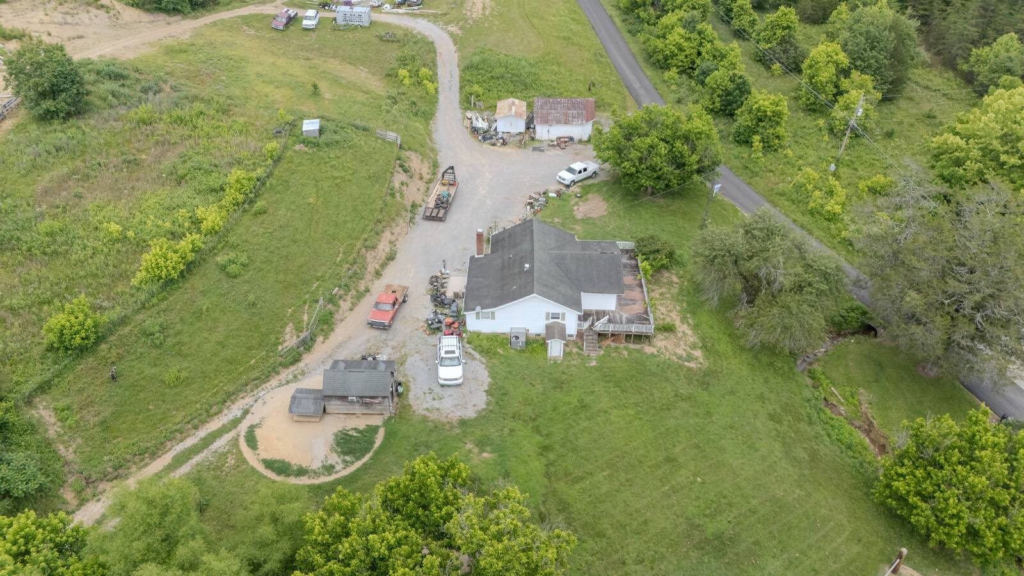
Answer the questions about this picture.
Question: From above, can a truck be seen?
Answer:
Yes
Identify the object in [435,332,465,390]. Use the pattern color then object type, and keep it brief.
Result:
white car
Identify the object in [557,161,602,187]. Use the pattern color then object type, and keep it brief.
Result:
white truck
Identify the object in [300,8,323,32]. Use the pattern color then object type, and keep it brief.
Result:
white car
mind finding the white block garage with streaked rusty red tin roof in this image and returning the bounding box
[534,98,596,142]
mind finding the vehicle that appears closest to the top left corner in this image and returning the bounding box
[272,12,298,31]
